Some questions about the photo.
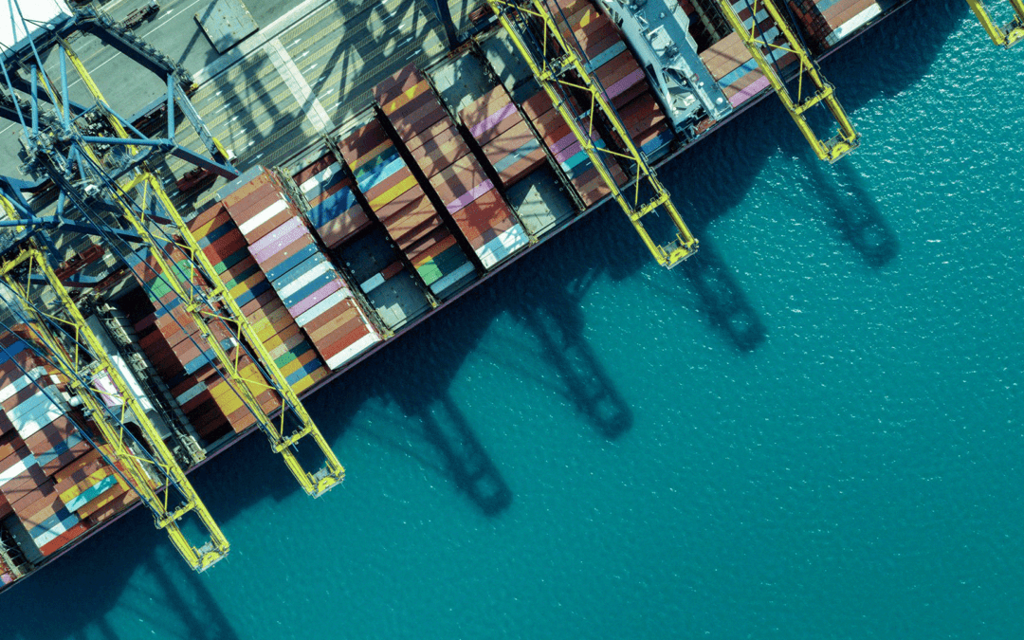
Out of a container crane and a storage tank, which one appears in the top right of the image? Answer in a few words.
container crane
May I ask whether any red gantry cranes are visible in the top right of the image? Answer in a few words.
No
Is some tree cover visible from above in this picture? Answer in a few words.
No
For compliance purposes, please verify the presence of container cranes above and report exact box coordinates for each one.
[710,0,862,166]
[959,0,1024,52]
[0,0,349,498]
[0,90,235,575]
[419,0,699,272]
